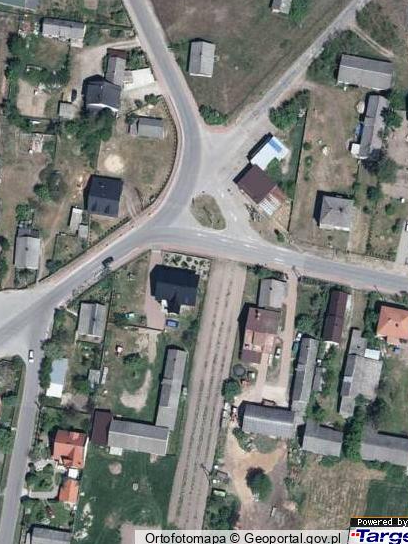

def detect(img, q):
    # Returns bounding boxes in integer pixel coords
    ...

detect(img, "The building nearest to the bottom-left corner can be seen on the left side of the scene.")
[30,525,73,544]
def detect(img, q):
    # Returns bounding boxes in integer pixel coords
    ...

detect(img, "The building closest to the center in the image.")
[154,271,198,314]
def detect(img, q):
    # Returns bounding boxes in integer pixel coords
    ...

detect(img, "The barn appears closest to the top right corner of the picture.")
[337,54,394,90]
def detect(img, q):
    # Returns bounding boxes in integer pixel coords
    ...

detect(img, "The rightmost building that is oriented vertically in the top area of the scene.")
[360,94,389,157]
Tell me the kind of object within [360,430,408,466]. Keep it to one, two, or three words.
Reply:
barn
